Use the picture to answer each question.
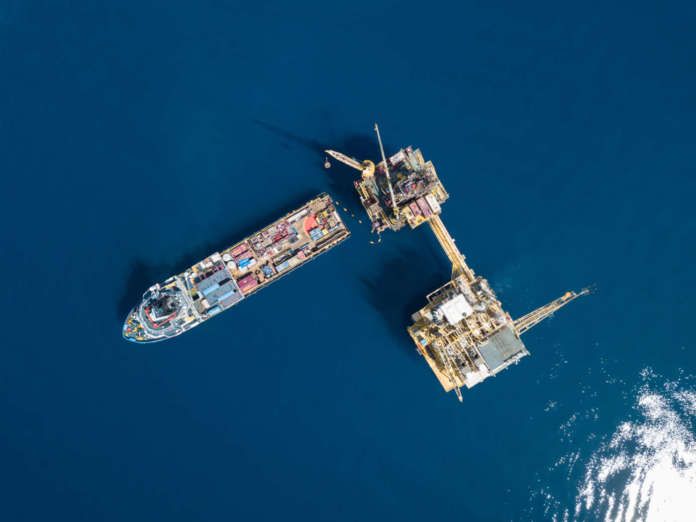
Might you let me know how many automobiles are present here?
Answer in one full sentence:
The count of automobiles is 0.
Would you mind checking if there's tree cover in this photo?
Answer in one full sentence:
No, the picture contains no tree cover.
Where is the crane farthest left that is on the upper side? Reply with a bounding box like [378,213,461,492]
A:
[324,150,377,181]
